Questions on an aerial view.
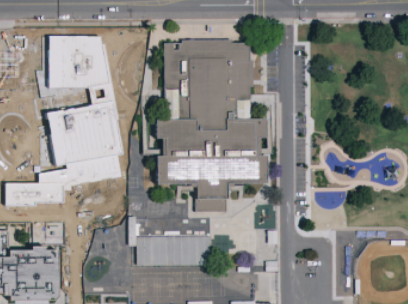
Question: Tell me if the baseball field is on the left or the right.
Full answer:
The baseball field appears in the right half of the scene.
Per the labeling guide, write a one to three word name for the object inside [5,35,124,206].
building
